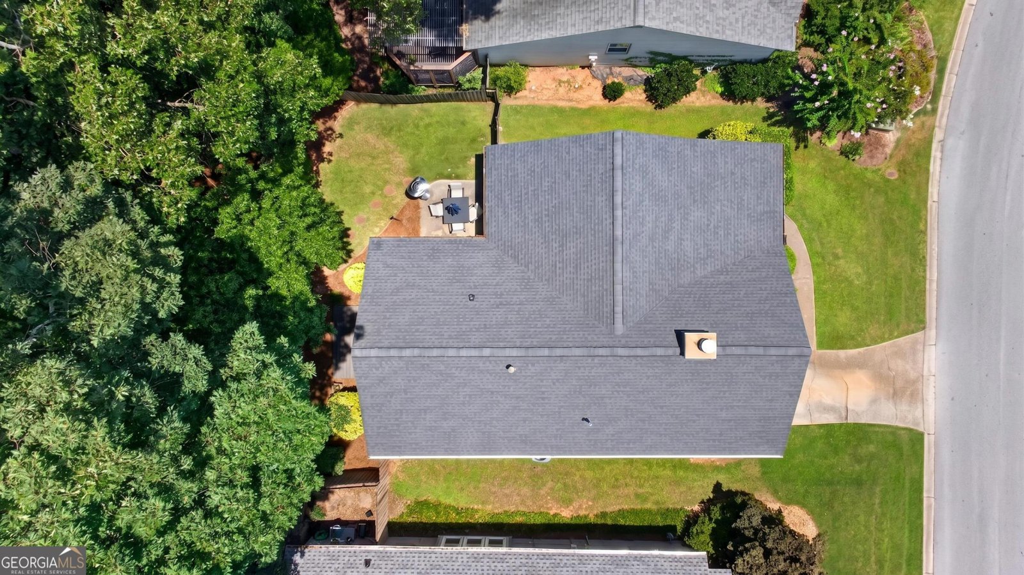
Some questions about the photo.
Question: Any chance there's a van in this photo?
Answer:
No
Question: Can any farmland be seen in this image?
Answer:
No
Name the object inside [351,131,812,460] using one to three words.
house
